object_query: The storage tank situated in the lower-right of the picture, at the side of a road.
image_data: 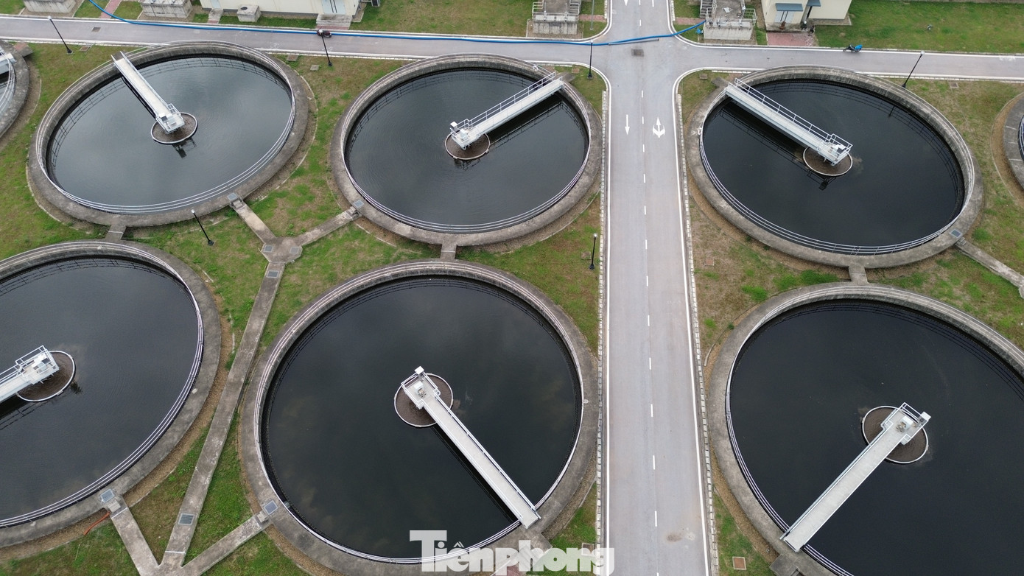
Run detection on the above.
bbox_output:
[707,281,1024,576]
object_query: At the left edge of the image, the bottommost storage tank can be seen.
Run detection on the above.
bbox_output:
[0,238,223,546]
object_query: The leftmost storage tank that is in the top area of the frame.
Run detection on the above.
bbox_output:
[0,40,36,138]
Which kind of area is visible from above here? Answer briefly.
industrial area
